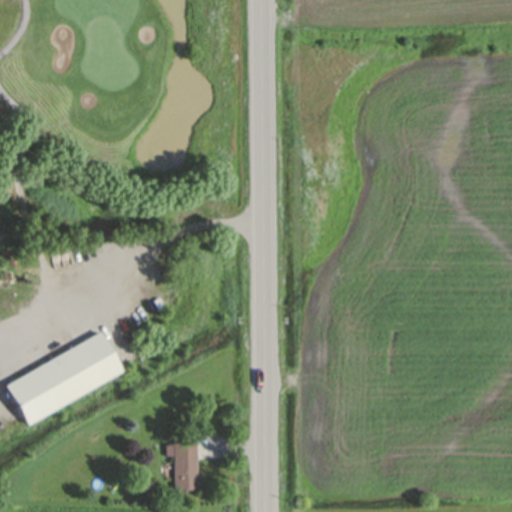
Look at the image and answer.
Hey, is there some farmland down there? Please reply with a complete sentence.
Yes, farmland can be seen from above here.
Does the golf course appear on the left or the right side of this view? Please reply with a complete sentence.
It is on the left.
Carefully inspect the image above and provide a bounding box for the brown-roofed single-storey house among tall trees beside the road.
[166,444,198,490]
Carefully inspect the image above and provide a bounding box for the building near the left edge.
[7,332,123,426]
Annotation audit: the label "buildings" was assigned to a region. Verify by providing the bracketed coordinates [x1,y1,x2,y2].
[166,444,198,490]
[7,332,123,426]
